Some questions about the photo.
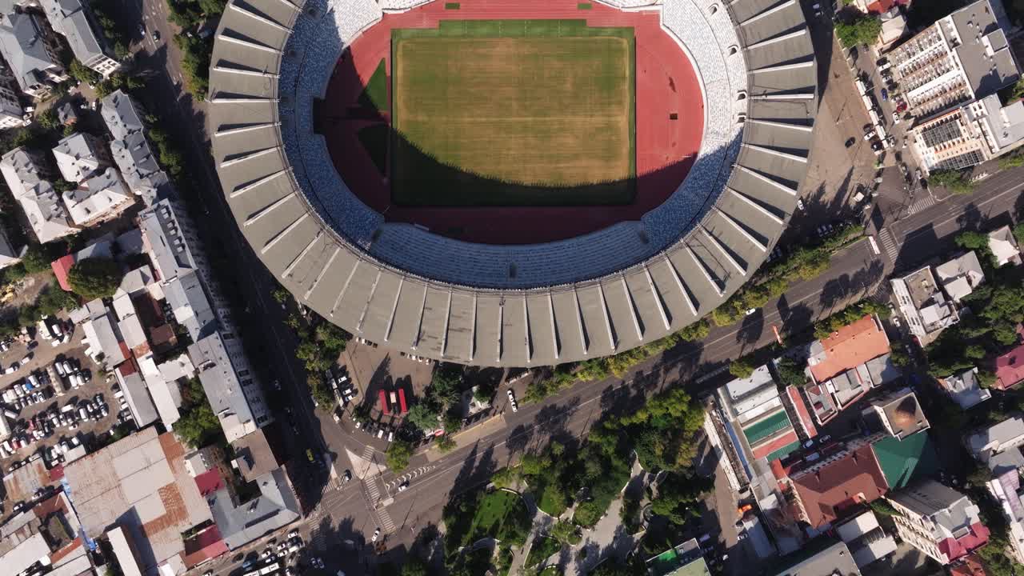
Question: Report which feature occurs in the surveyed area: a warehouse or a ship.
warehouse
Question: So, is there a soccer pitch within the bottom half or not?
No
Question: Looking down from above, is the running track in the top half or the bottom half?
top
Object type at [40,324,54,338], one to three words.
vehicle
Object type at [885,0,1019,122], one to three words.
building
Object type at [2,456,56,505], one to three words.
shed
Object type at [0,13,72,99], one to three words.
house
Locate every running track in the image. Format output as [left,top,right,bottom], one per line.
[313,0,704,245]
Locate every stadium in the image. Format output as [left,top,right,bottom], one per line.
[210,0,816,368]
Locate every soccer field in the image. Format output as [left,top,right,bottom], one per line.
[391,20,636,207]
